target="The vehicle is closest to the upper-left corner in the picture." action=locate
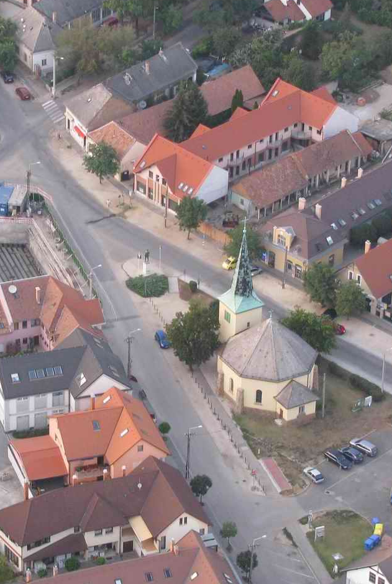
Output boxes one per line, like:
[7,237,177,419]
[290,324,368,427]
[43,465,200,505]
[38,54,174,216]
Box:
[0,69,17,85]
